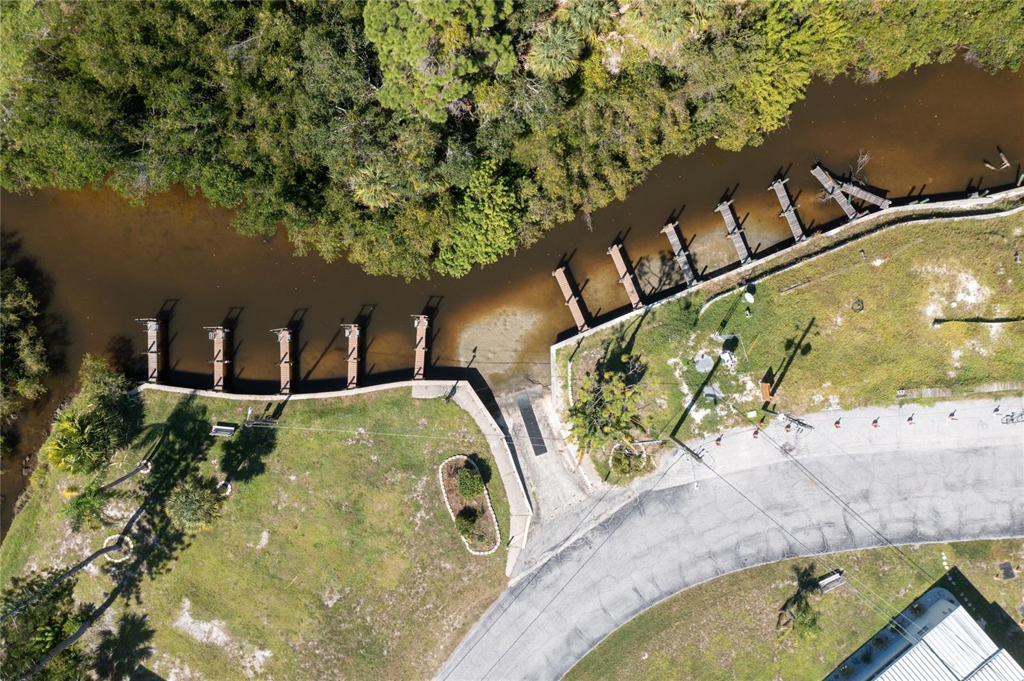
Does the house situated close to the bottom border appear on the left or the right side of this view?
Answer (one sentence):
The house situated close to the bottom border is on the right side of the image.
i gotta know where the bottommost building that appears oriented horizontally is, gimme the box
[848,602,1024,681]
